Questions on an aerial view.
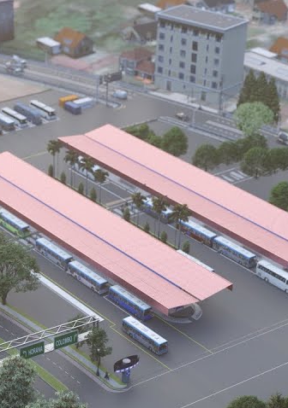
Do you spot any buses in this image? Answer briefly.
Yes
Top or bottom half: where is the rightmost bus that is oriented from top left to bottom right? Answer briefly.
bottom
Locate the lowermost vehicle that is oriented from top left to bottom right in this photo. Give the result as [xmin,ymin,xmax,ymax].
[123,316,167,356]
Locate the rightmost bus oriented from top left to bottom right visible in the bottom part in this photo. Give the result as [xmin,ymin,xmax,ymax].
[256,262,288,295]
